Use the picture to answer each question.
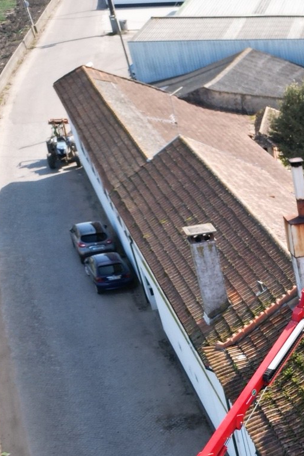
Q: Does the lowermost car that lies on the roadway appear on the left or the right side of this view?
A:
left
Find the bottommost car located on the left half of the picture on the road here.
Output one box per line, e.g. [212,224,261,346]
[80,250,128,288]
